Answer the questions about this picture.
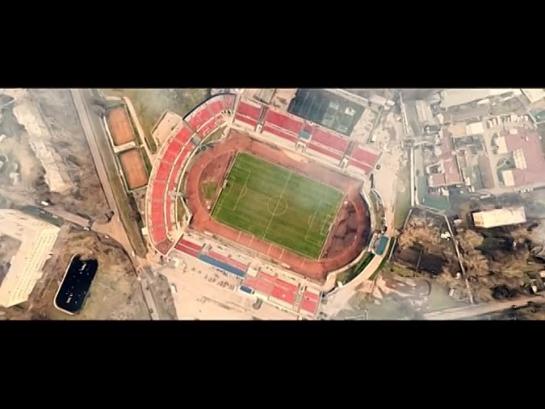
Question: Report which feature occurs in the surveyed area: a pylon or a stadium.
stadium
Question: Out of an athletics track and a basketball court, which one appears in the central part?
athletics track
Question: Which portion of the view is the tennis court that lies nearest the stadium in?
left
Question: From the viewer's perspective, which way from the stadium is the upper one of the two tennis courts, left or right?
on its left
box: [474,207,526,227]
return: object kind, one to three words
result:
building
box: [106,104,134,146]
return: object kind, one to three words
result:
tennis court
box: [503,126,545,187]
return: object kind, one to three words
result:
building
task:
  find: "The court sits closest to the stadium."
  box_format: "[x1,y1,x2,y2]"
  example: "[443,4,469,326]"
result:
[117,147,147,189]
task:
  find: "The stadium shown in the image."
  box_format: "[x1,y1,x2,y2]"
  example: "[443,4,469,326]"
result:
[145,94,382,317]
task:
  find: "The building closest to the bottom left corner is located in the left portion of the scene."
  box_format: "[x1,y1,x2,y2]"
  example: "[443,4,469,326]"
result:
[0,205,60,306]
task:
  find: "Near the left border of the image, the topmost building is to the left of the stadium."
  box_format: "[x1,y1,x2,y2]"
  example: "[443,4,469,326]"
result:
[14,99,80,191]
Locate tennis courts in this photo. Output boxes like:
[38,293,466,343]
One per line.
[106,104,134,146]
[117,147,147,189]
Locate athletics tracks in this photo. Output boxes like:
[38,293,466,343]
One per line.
[188,139,368,275]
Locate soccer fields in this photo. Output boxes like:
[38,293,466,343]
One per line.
[211,151,345,263]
